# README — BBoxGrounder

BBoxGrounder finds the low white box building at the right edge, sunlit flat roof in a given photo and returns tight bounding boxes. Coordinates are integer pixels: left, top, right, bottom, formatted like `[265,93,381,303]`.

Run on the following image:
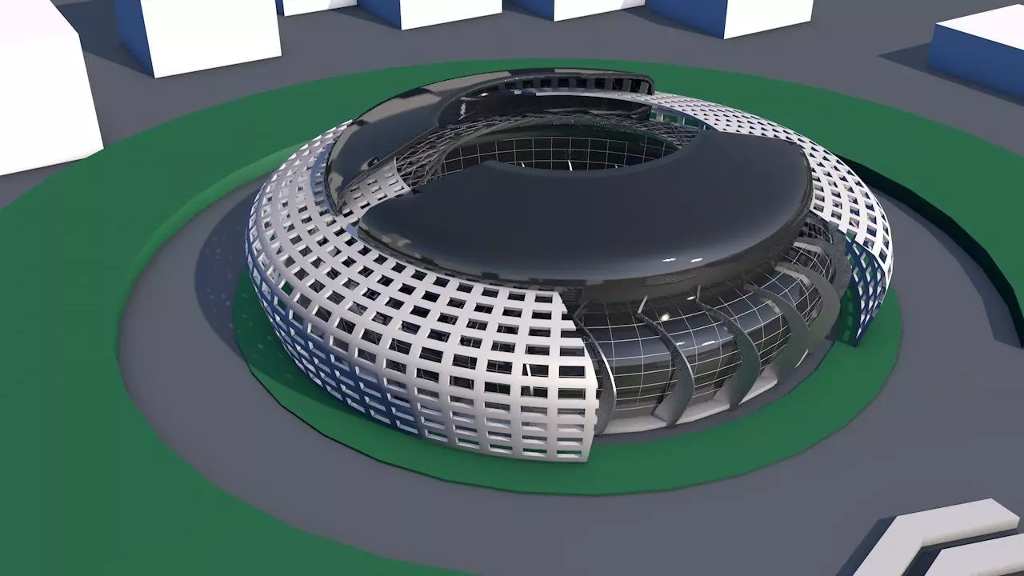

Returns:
[928,5,1024,100]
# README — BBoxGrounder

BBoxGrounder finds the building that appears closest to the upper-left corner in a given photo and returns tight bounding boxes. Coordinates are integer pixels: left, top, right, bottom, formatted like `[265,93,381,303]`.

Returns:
[0,0,103,176]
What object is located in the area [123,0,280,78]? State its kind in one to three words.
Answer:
building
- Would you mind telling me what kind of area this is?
sports ground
